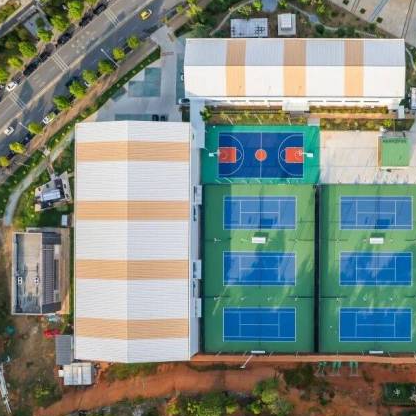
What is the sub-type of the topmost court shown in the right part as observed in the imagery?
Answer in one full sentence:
The topmost court shown in the right part appears to be a basketball court.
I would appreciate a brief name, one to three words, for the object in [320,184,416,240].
tennis court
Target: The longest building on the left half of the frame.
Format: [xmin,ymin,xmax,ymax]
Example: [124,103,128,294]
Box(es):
[74,120,204,365]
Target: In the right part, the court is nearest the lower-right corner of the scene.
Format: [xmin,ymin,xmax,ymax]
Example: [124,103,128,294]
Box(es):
[320,298,416,353]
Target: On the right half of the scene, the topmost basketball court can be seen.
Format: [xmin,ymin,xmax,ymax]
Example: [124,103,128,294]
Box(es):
[201,125,319,183]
